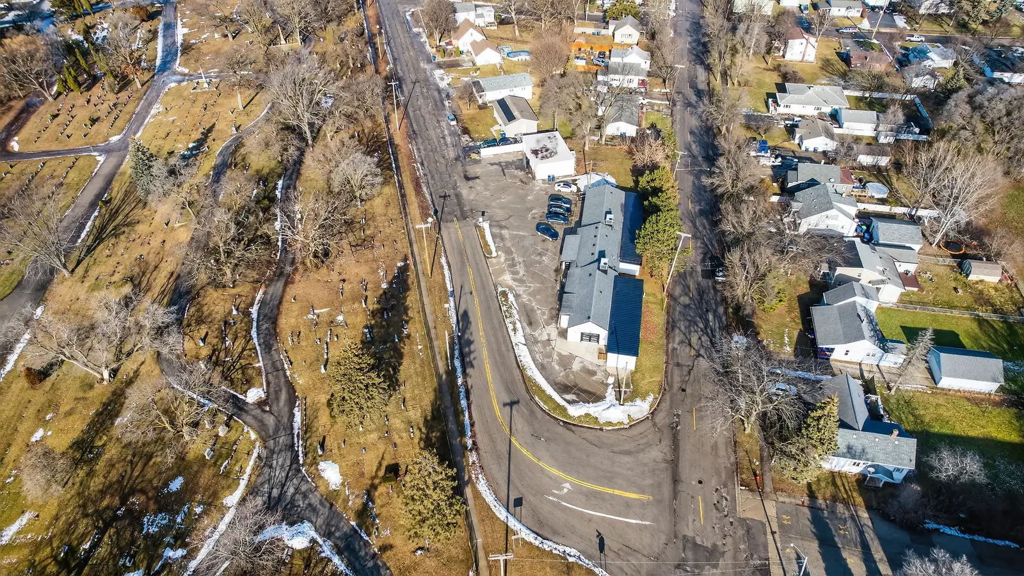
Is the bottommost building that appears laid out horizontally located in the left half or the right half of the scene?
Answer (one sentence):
The bottommost building that appears laid out horizontally is on the right side of the image.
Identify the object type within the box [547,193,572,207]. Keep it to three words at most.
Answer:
car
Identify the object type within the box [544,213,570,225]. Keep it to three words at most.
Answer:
vehicle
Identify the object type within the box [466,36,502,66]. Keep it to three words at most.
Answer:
building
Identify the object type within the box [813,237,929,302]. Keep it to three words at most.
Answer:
house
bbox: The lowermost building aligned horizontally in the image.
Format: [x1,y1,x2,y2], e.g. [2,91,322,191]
[925,349,1014,393]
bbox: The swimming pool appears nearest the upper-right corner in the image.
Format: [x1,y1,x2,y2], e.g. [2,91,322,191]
[865,181,894,199]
